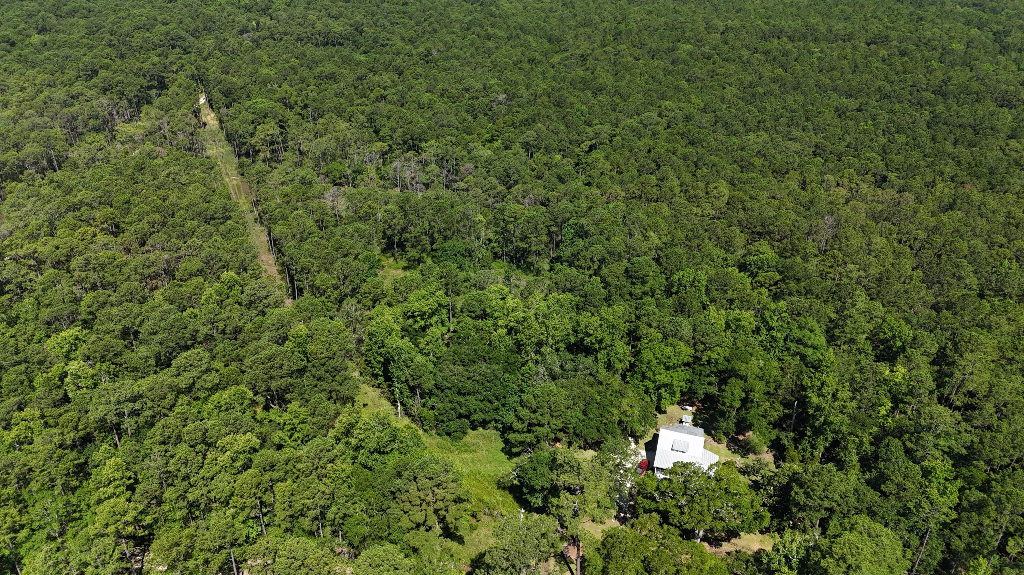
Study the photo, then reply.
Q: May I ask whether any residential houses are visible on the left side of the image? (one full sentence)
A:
No, looking on the left side of the image, there is no residential house.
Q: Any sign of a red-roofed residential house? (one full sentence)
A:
No, no red-roofed residential house is visible in the scene.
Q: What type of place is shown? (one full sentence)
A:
What you see here is a forest.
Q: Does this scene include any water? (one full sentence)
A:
No, the scene doesn't show any water.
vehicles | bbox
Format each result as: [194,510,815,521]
[637,460,652,478]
